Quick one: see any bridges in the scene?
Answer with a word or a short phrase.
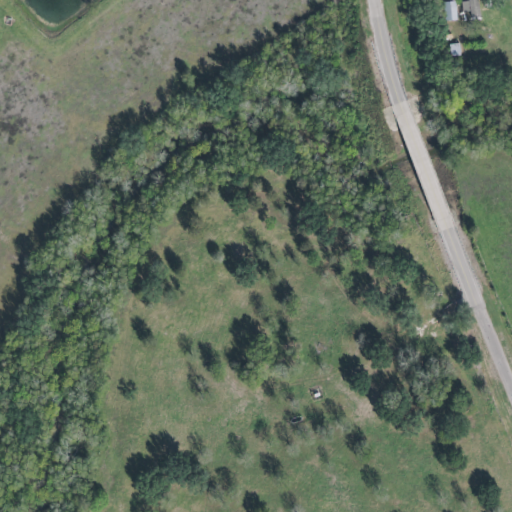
Yes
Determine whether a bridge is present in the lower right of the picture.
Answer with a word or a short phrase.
No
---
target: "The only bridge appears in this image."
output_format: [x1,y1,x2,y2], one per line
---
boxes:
[391,99,455,231]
